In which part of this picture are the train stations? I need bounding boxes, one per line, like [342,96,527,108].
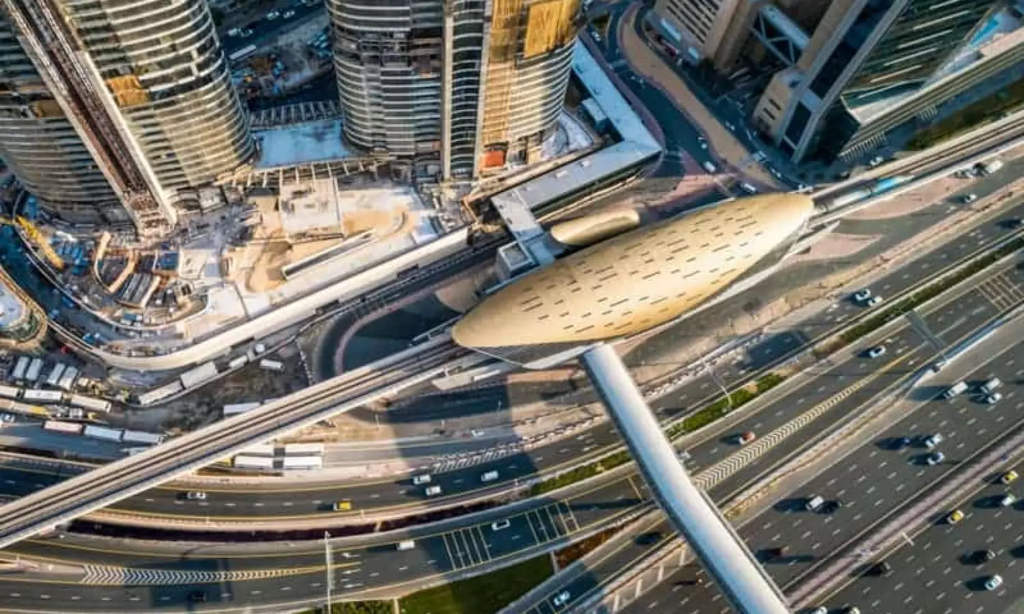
[408,192,841,391]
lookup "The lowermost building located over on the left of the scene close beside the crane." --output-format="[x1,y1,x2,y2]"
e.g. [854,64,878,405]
[0,263,57,357]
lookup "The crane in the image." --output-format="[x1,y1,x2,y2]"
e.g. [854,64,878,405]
[11,213,70,272]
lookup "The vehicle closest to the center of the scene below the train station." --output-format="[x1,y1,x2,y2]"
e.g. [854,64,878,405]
[478,469,501,482]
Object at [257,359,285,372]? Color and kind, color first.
white vehicle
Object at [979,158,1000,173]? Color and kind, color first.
white vehicle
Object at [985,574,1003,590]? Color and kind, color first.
white car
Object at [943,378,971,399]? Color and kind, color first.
white truck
